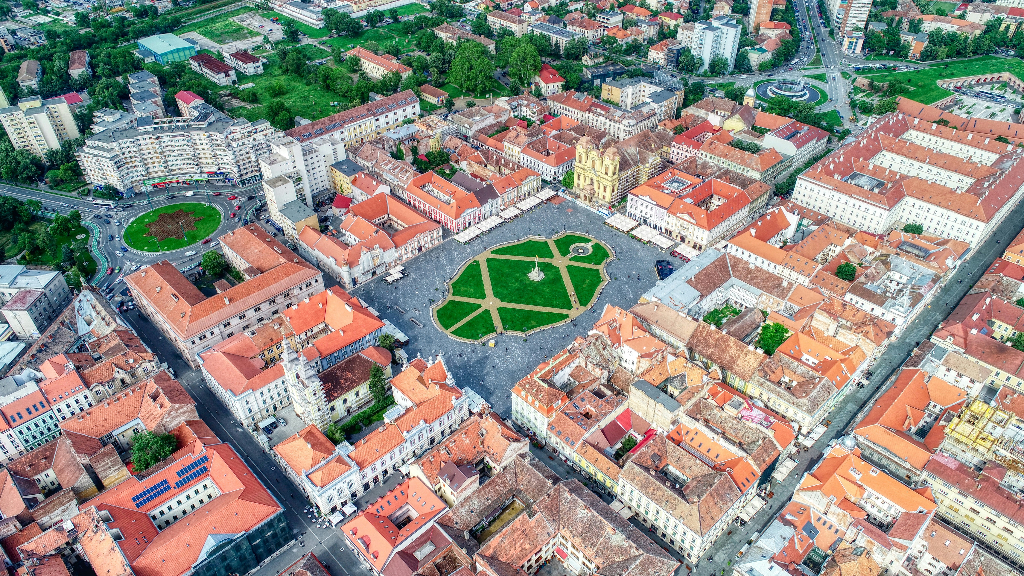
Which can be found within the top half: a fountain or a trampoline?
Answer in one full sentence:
You can see a fountain within the top half.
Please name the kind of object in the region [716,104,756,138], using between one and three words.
building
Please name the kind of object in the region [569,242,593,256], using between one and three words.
fountain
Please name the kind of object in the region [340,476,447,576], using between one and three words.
building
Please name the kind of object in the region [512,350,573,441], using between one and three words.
house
